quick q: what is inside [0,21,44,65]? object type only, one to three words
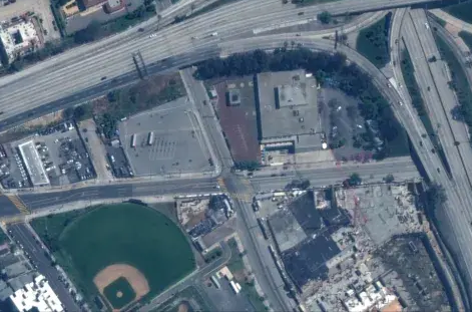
building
